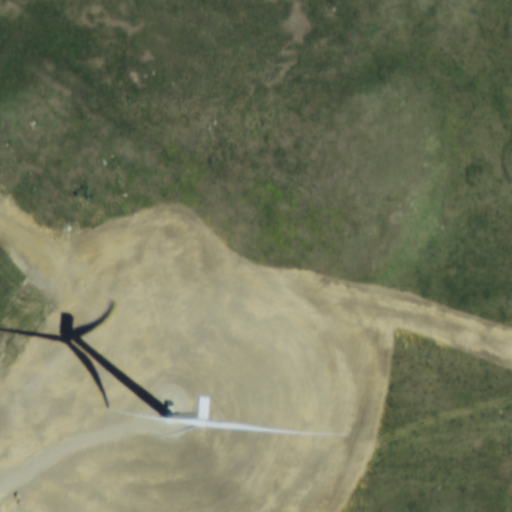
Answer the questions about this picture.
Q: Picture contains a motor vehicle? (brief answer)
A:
No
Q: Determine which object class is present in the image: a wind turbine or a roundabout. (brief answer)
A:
wind turbine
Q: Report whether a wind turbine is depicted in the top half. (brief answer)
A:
No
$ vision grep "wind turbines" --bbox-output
[104,396,341,438]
